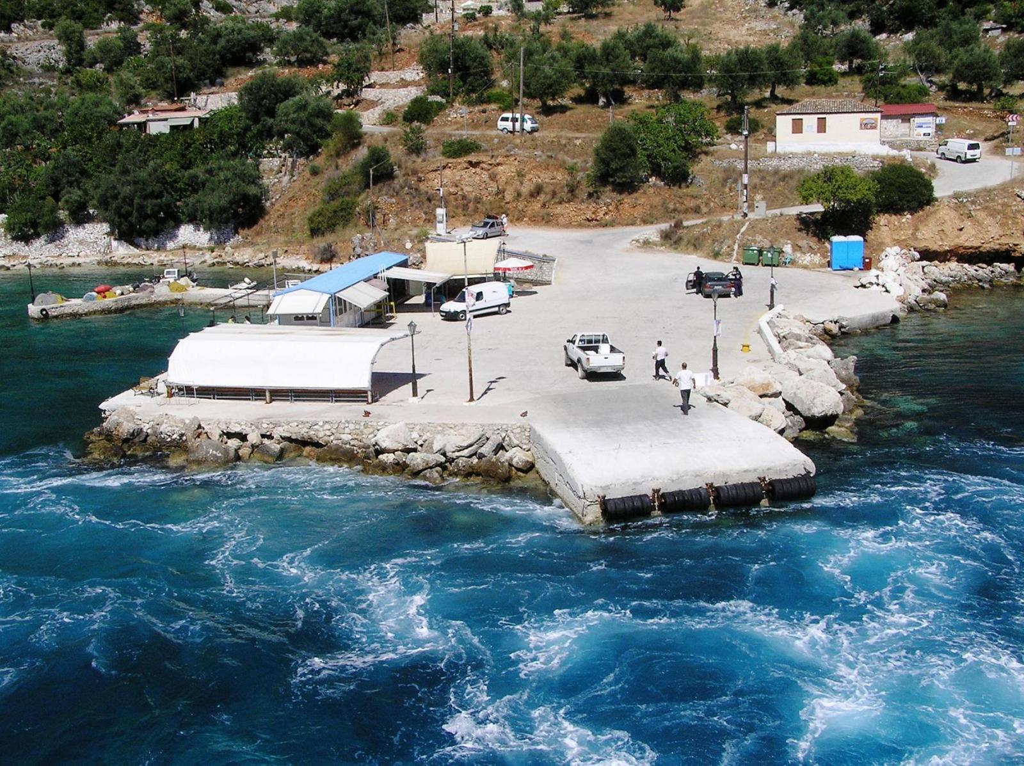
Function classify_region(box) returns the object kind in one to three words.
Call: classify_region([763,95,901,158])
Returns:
house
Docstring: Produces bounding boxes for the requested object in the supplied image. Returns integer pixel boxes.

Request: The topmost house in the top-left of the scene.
[118,100,211,135]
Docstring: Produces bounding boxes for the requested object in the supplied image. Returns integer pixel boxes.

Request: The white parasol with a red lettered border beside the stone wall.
[497,250,536,285]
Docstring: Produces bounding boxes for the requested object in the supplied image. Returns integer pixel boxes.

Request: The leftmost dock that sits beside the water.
[28,284,289,326]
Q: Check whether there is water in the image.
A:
Yes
